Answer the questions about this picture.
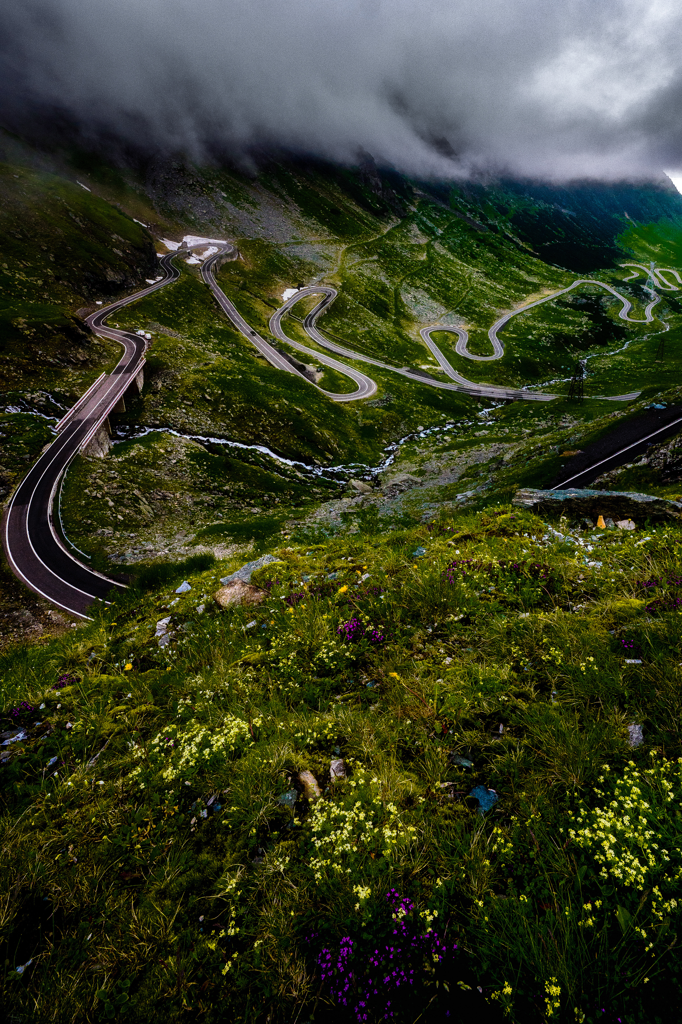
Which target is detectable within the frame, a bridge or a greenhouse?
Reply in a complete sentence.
Visible in the photo is a bridge.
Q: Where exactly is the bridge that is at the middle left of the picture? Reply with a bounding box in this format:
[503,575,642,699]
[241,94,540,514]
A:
[30,359,148,449]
